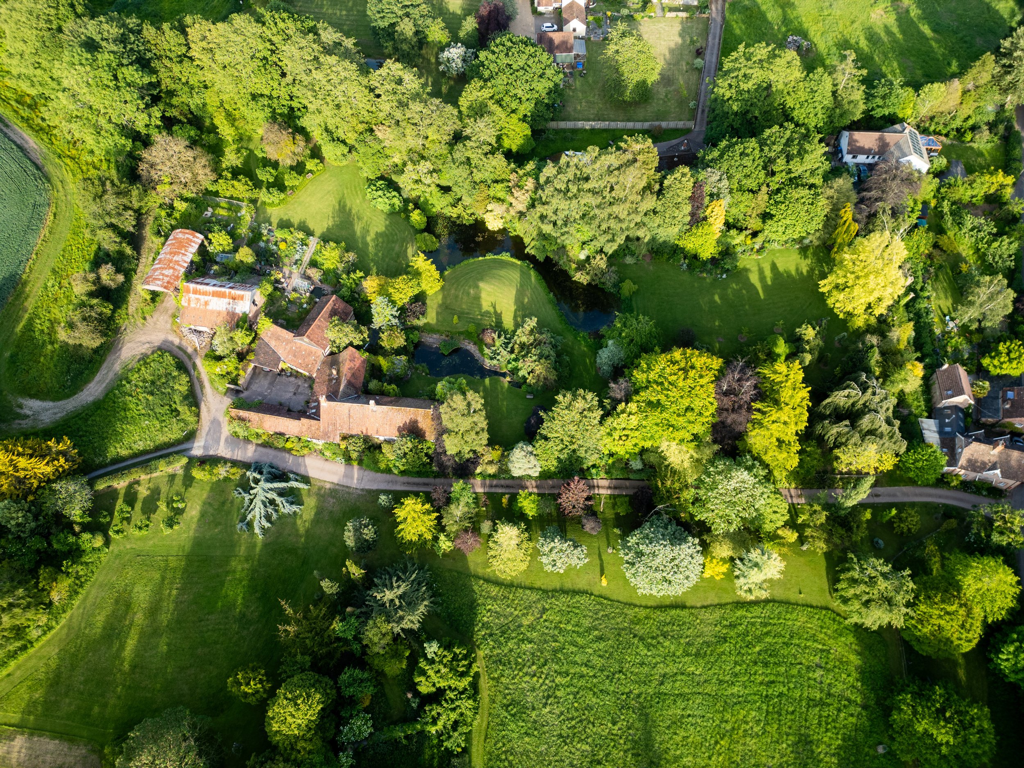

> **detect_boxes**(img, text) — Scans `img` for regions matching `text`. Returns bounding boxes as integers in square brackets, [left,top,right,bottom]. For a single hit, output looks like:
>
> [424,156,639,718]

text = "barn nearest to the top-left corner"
[141,229,210,302]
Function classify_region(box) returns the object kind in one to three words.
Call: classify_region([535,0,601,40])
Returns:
house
